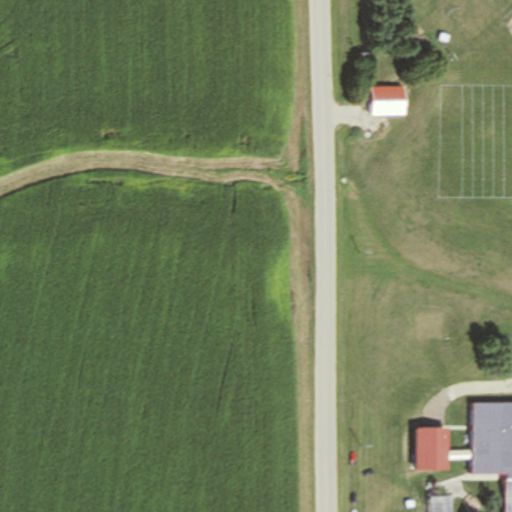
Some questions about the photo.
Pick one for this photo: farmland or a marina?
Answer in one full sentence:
What you see here is farmland.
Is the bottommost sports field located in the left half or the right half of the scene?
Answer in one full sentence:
The bottommost sports field is on the right side of the image.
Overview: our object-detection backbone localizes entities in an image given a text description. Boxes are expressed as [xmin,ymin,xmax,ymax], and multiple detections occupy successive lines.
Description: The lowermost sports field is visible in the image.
[438,84,512,198]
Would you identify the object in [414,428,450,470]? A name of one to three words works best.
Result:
building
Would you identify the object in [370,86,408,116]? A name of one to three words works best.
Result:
barn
